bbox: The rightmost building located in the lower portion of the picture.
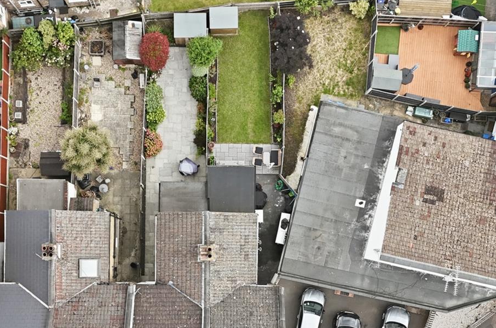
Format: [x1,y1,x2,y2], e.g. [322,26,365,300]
[276,97,496,314]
